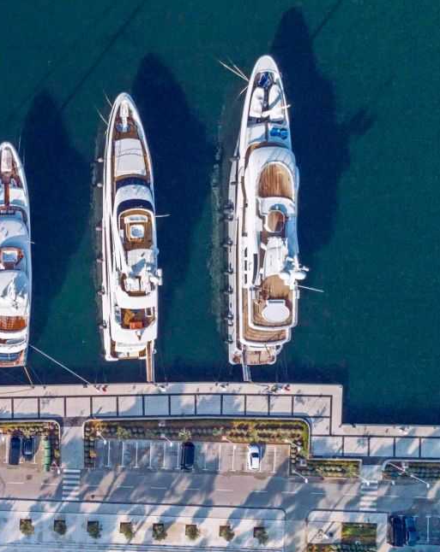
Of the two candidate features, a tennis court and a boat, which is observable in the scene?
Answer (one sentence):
The one in the frame is a boat.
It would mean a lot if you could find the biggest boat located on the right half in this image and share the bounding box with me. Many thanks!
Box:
[219,54,323,383]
